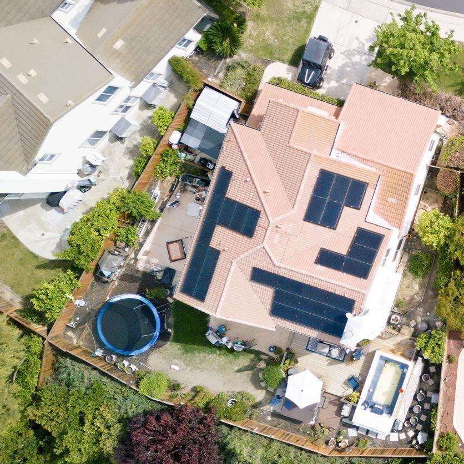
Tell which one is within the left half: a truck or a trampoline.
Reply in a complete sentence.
What appears within the left half is a trampoline.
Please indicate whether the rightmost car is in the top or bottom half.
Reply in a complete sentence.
You can find the rightmost car in the top half.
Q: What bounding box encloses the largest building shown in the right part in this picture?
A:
[170,80,443,349]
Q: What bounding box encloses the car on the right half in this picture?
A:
[291,32,330,89]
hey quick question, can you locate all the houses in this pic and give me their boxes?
[170,80,443,349]
[0,0,214,194]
